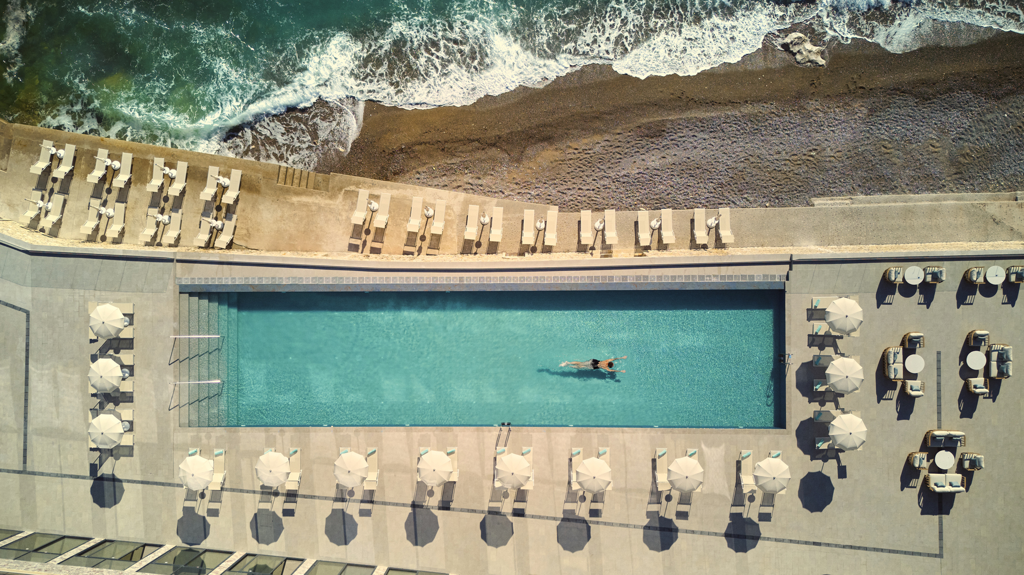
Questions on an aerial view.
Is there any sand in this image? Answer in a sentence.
Yes, there's sand in this view.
